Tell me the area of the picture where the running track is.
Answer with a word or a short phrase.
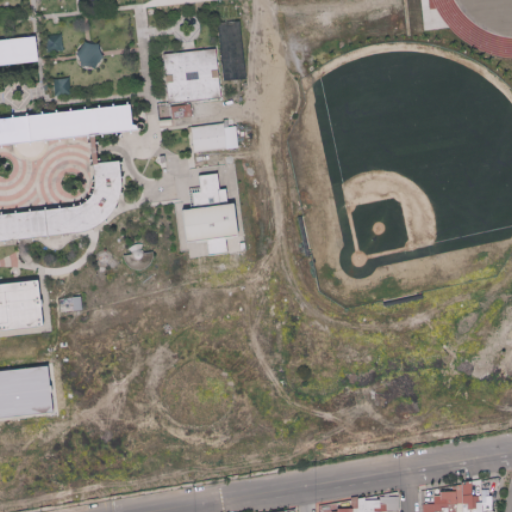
top right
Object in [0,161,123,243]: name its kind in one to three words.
building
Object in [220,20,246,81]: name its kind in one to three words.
house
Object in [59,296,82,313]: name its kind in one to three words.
shed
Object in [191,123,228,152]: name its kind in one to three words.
building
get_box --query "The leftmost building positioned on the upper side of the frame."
[0,36,38,66]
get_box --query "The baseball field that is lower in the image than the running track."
[302,42,512,278]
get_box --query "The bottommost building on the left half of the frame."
[0,365,53,418]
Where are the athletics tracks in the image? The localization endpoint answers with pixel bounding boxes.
[430,0,512,58]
